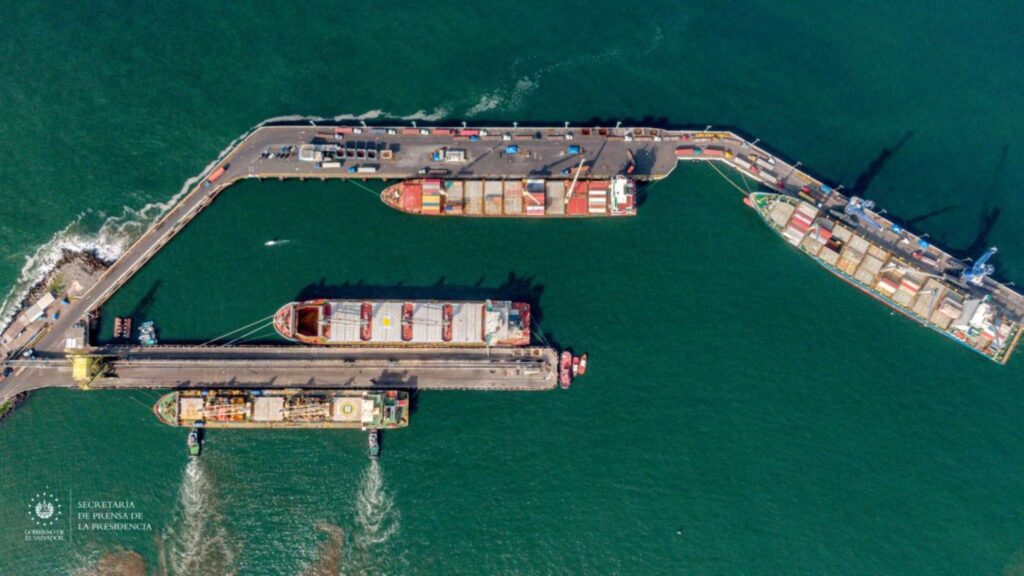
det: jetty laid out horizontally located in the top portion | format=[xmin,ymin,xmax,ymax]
[70,126,1024,331]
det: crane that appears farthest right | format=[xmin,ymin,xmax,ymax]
[955,247,1009,290]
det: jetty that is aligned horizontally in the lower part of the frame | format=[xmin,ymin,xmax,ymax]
[87,344,557,391]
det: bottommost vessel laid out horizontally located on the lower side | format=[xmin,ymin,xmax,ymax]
[151,390,409,430]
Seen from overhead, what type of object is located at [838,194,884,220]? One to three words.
crane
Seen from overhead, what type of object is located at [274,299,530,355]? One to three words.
ship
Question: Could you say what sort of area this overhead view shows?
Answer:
port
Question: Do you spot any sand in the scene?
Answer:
No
